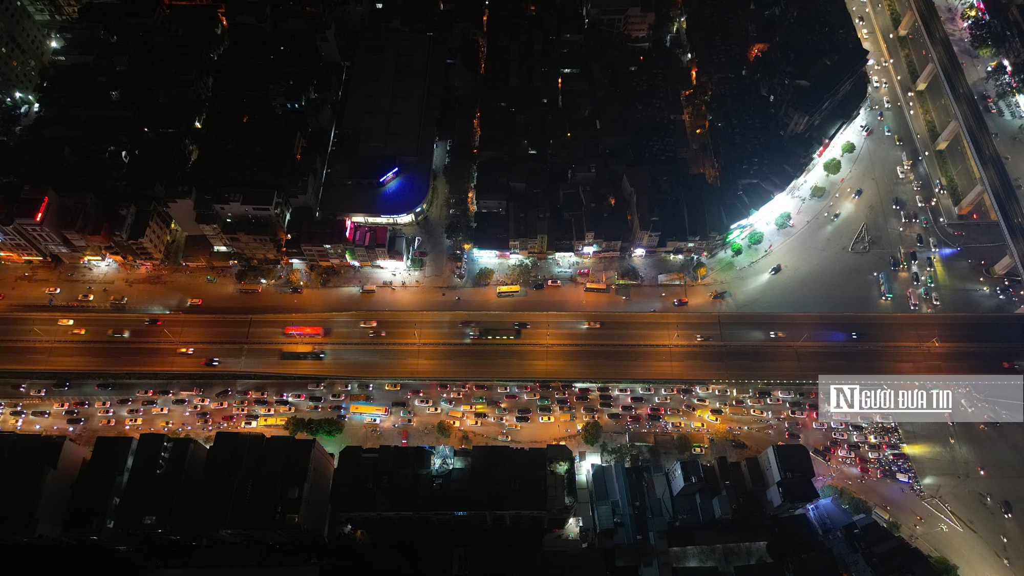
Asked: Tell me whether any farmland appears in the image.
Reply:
No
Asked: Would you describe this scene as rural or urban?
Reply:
urban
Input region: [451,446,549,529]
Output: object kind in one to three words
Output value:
building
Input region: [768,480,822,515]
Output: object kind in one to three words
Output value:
house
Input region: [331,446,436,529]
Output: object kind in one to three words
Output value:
building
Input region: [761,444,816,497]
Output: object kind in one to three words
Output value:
house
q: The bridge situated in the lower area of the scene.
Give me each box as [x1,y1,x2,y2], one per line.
[0,310,1024,382]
